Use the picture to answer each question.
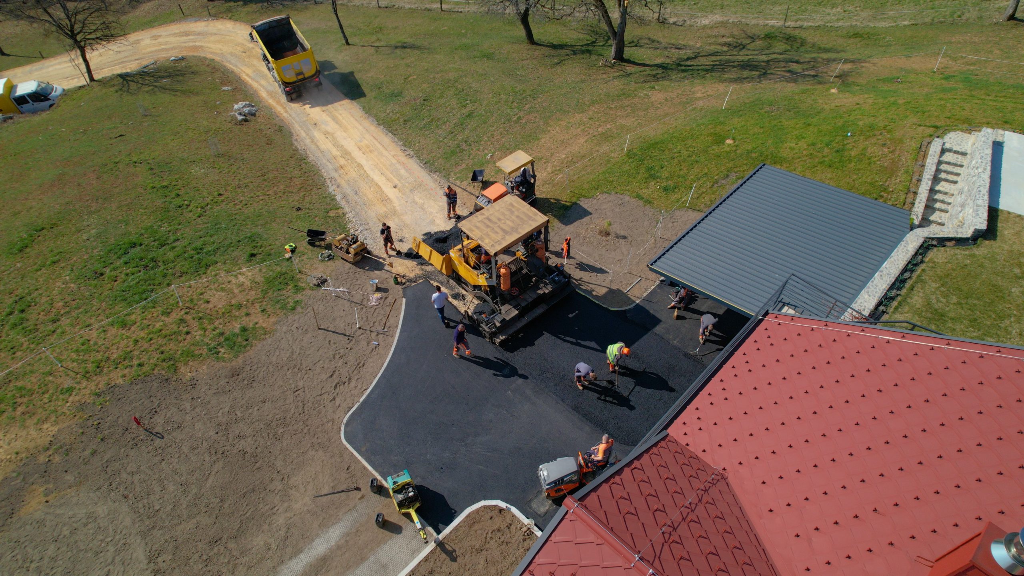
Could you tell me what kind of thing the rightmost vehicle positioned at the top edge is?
truck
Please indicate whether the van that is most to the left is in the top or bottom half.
top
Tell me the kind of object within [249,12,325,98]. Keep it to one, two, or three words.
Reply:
truck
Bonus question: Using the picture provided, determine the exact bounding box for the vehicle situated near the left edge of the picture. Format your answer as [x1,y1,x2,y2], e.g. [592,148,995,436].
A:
[0,72,68,114]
